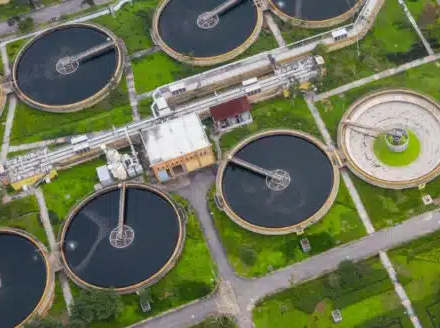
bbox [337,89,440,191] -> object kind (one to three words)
storage tank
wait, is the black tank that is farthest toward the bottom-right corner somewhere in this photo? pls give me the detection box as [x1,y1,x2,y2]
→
[213,129,340,236]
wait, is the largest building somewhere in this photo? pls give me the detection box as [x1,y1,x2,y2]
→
[136,108,217,184]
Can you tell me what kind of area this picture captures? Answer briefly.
industrial area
